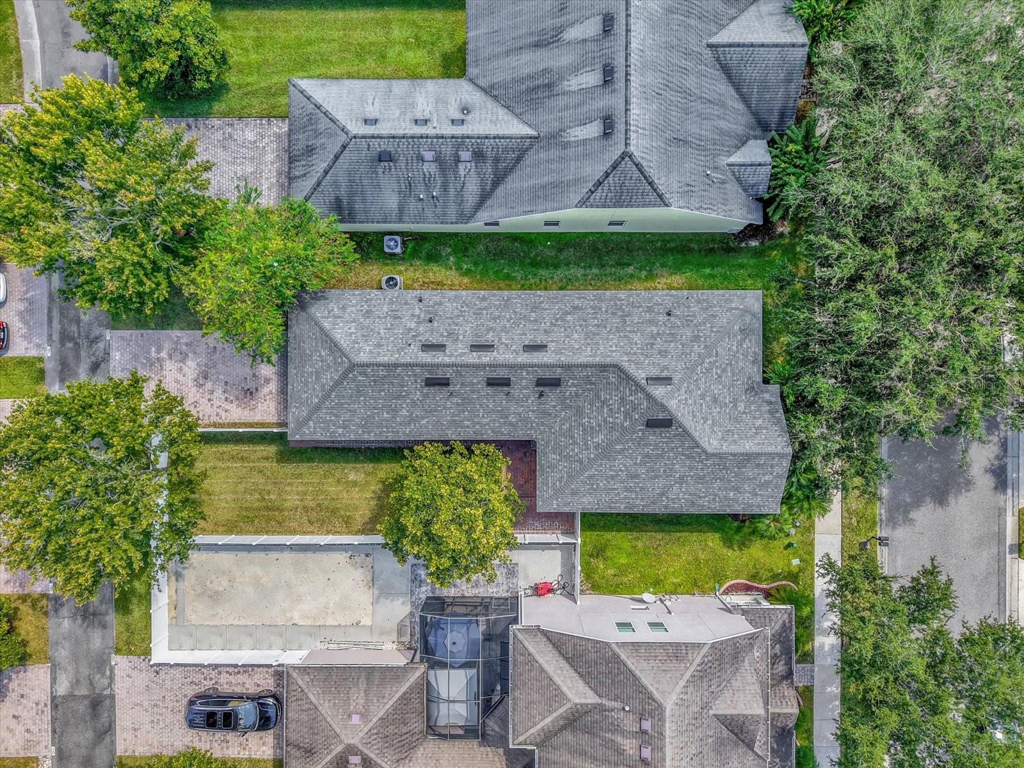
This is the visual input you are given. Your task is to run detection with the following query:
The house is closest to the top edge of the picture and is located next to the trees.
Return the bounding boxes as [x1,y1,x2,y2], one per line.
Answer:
[286,0,809,233]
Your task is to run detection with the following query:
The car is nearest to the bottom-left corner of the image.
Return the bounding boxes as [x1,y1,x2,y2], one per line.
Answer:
[183,688,283,740]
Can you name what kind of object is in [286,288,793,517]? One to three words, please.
house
